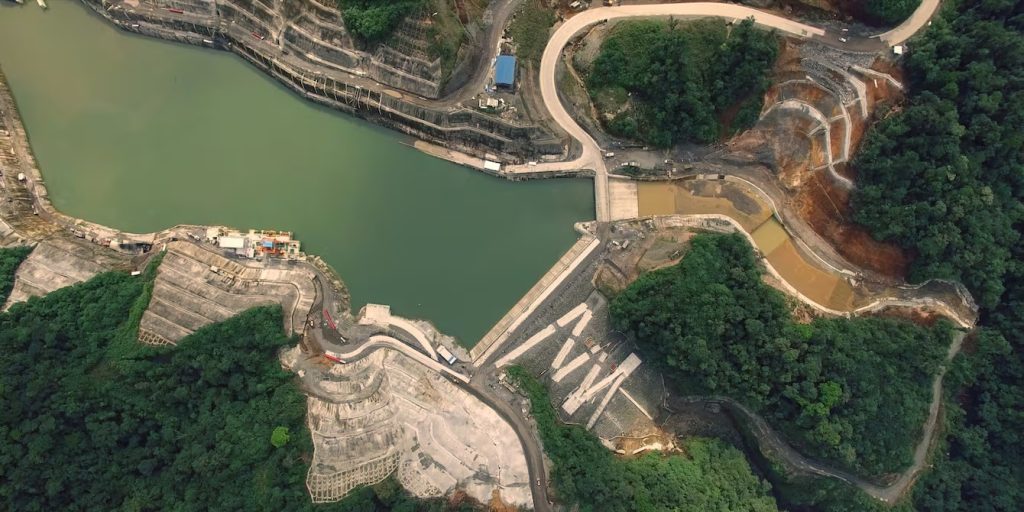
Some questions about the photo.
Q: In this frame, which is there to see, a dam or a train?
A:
dam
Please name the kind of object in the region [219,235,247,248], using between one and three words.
building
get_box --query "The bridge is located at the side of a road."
[594,180,609,223]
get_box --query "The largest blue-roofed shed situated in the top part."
[496,55,516,88]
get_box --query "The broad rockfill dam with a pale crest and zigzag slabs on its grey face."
[471,235,665,441]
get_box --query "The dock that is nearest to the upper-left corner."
[415,141,485,171]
